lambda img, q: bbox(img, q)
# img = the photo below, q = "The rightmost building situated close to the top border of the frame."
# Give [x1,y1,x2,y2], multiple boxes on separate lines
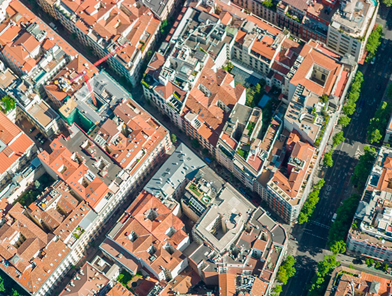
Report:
[324,0,379,60]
